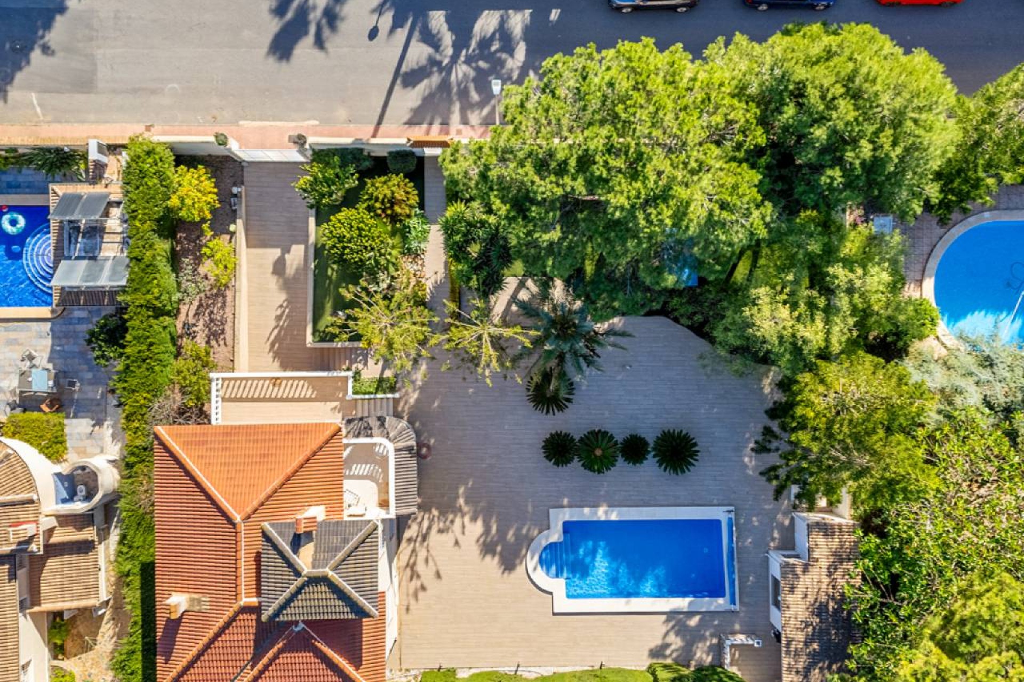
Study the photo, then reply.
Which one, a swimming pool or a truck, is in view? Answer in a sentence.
It is a swimming pool that can be seen here.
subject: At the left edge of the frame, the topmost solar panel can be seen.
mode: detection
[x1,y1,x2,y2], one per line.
[46,192,119,222]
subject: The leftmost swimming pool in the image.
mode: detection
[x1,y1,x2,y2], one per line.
[0,195,64,319]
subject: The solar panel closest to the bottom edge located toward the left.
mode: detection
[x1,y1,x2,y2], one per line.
[49,259,136,286]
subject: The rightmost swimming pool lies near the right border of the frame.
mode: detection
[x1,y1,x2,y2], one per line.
[922,209,1024,356]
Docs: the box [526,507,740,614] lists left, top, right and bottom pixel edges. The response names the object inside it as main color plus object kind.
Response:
blue swimming pool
